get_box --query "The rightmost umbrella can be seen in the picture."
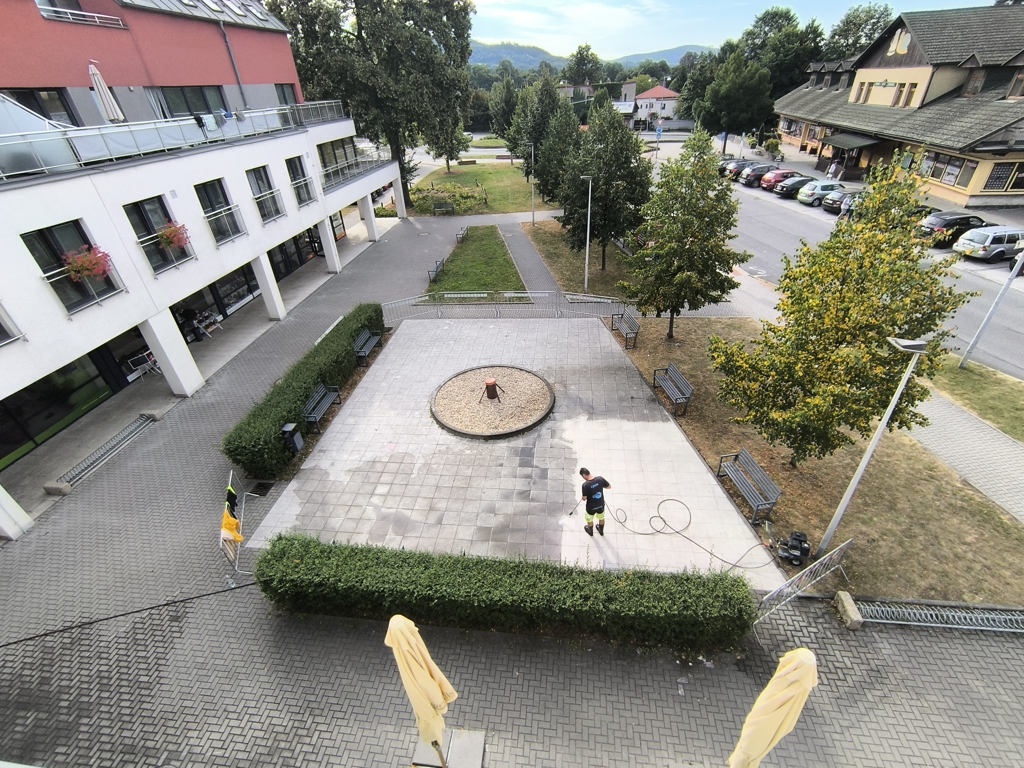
[726,638,820,768]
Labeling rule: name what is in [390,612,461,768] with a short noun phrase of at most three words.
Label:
umbrella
